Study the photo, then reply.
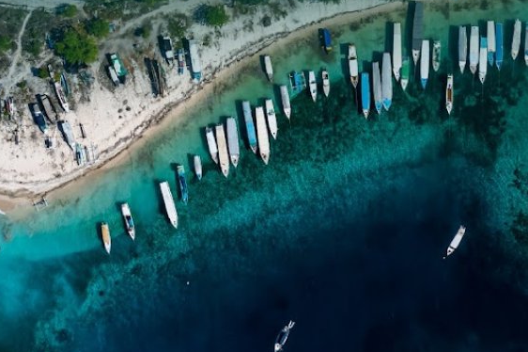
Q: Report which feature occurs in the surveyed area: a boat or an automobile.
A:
boat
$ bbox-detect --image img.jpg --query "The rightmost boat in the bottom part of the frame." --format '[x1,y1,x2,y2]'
[448,226,465,256]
